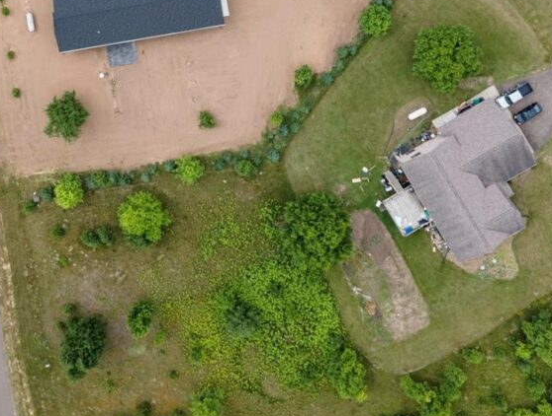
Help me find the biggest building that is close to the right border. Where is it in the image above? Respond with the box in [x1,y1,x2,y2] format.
[401,97,535,258]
